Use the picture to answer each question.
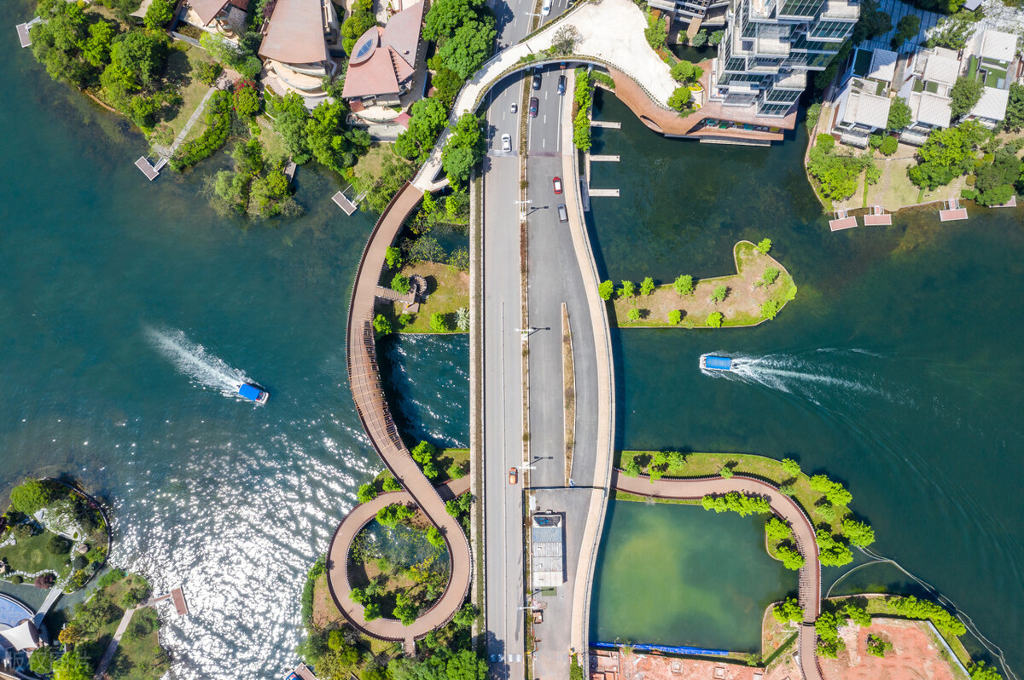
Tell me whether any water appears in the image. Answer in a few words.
Yes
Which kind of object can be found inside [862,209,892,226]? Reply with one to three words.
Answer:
pier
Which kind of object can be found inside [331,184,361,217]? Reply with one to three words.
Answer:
pier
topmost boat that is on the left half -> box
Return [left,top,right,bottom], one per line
[237,380,270,403]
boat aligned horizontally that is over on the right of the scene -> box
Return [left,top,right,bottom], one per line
[699,356,735,370]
